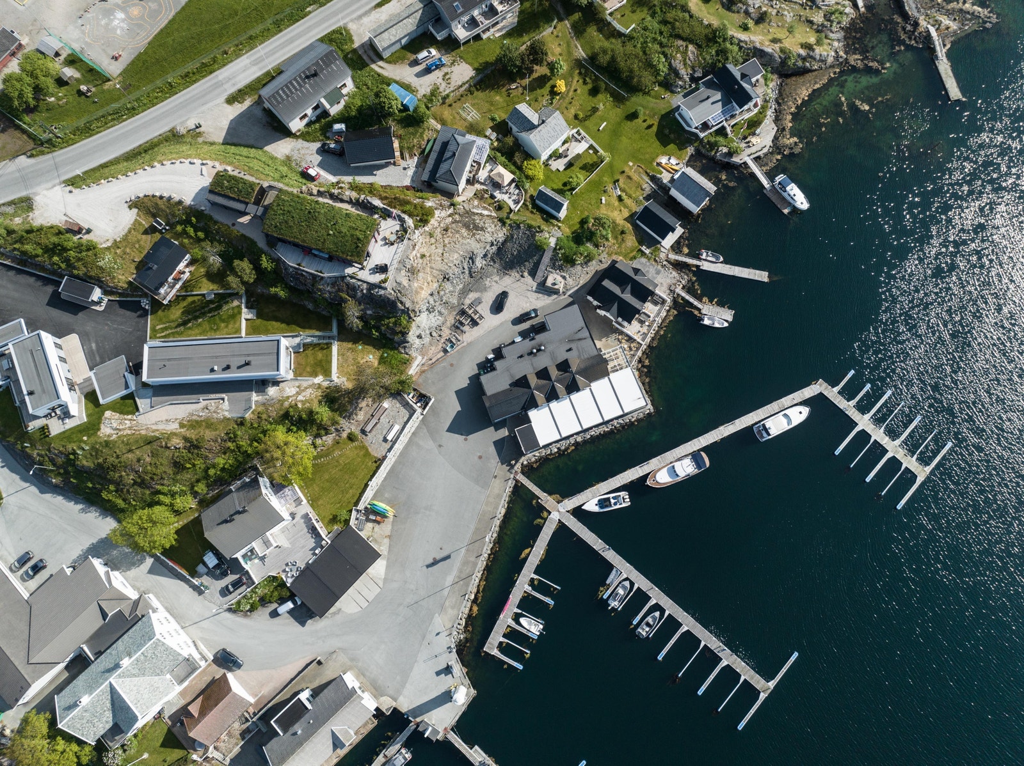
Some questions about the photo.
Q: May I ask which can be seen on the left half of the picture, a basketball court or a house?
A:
house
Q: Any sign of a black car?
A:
Yes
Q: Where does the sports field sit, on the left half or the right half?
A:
left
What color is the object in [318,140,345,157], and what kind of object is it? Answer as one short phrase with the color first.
black car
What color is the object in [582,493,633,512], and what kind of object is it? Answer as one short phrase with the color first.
white boat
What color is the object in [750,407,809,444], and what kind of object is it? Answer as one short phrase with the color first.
white boat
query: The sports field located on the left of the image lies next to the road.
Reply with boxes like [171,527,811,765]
[116,0,299,89]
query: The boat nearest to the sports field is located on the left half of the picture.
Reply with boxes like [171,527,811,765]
[78,85,96,98]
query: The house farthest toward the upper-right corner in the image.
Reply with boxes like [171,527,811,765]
[674,57,765,143]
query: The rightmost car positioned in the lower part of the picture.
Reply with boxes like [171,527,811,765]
[271,595,304,619]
